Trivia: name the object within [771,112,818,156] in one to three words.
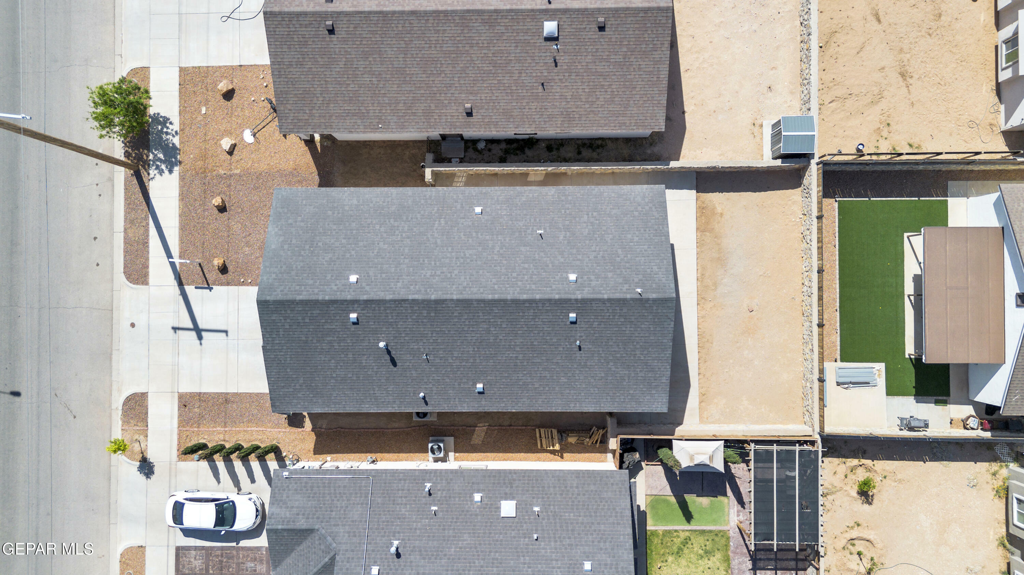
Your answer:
shed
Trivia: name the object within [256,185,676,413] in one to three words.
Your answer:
house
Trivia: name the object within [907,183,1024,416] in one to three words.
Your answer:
house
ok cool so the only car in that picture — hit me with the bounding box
[164,489,264,536]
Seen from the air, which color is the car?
white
